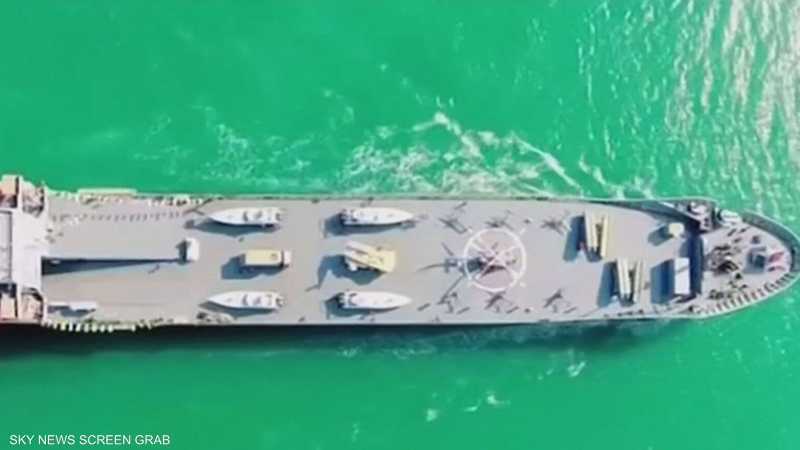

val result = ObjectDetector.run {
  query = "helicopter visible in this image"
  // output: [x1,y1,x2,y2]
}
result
[437,227,527,289]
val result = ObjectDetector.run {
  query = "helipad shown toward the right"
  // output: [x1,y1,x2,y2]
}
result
[463,229,527,291]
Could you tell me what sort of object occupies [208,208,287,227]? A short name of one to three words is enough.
boat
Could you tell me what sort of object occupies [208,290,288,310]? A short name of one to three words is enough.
boat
